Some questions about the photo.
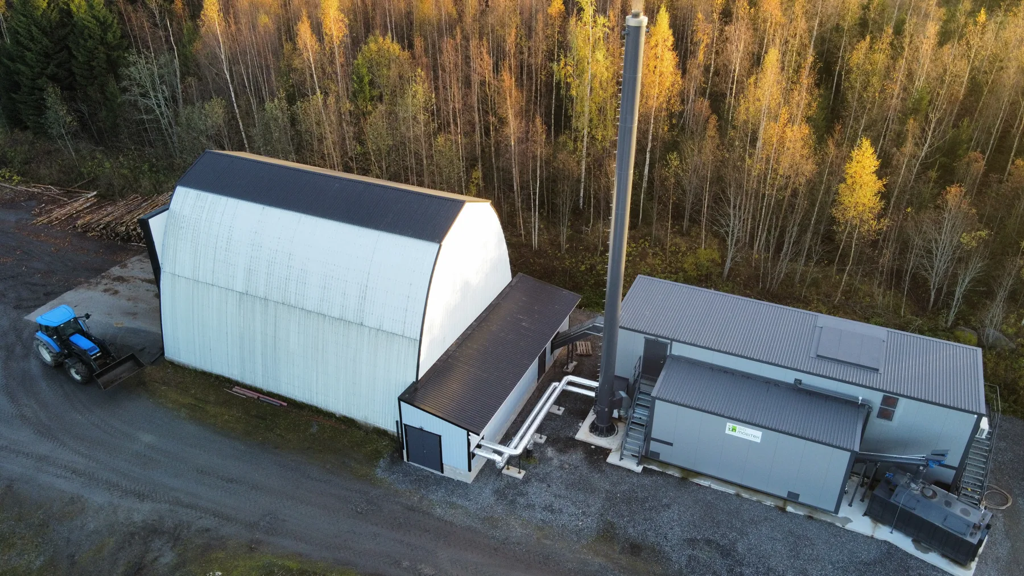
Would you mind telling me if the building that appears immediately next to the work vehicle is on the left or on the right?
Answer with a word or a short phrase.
left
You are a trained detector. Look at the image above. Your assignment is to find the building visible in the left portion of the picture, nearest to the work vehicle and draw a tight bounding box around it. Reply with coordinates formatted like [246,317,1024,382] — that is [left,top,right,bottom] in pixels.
[135,149,513,434]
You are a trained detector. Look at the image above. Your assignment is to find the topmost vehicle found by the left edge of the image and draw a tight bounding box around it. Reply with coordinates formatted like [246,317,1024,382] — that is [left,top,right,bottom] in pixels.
[35,307,143,398]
